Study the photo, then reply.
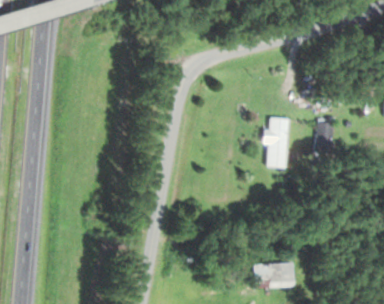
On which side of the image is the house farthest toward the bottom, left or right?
right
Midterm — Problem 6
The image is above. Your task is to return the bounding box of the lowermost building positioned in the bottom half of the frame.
[252,262,296,294]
